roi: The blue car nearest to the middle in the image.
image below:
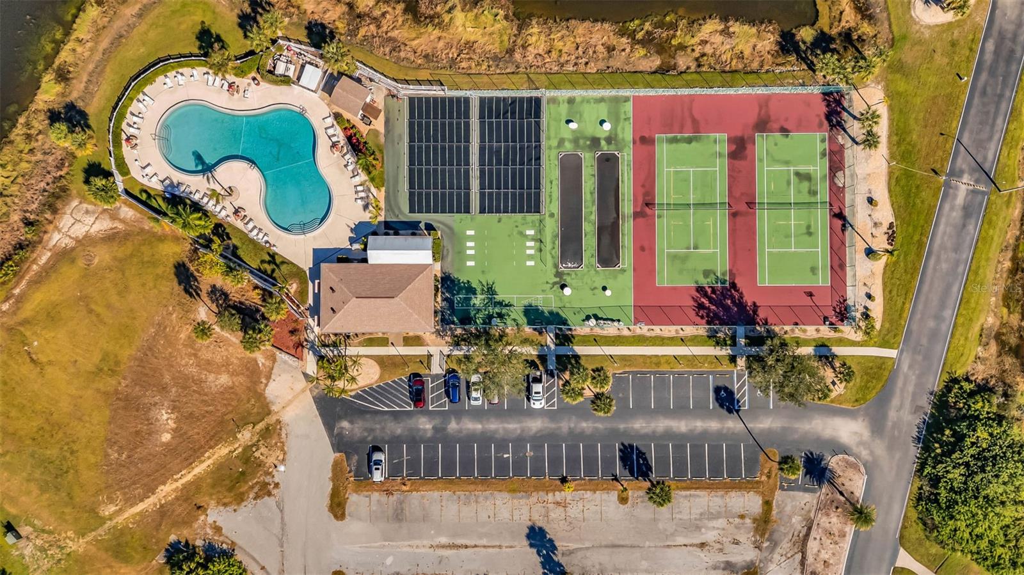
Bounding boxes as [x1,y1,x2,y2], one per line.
[447,373,461,403]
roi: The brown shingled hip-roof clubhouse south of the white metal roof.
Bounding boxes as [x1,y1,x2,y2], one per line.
[320,264,434,332]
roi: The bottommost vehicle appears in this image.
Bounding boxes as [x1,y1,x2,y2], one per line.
[370,452,385,482]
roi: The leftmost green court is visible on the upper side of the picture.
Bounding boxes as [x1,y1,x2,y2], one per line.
[384,94,633,326]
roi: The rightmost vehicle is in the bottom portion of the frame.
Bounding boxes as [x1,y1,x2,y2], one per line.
[530,370,545,408]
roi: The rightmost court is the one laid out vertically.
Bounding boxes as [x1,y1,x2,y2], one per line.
[741,93,847,327]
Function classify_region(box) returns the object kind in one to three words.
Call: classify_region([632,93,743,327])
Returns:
tennis court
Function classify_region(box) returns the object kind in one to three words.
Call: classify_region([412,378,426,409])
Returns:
car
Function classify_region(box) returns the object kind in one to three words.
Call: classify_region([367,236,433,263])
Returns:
building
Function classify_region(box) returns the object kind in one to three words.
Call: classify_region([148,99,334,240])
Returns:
swimming pool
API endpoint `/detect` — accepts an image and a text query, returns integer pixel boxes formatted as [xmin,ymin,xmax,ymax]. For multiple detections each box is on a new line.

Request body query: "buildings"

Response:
[367,236,433,263]
[299,64,322,91]
[331,76,371,118]
[320,264,434,332]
